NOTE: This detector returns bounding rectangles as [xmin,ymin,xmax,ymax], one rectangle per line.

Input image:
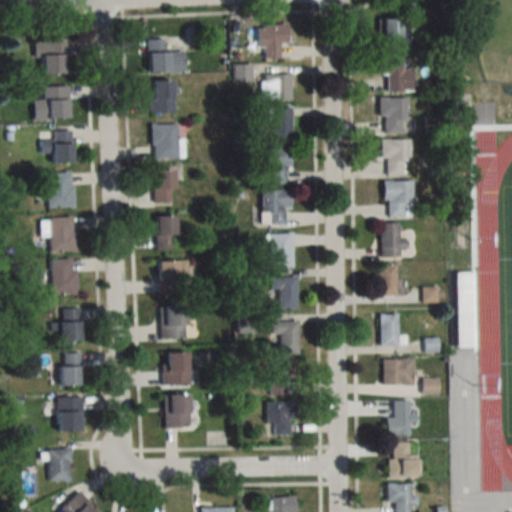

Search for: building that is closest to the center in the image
[270,233,296,270]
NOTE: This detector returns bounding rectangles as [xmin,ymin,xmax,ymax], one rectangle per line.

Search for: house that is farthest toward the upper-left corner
[34,40,68,74]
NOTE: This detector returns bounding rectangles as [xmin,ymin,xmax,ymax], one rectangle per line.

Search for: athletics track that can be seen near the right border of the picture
[478,124,512,492]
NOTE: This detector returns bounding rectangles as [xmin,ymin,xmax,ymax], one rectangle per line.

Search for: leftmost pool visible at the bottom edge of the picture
[22,466,38,496]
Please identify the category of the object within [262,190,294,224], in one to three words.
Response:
house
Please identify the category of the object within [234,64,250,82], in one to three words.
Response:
building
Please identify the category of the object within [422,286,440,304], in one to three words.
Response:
shed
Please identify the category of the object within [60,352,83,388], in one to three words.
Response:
house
